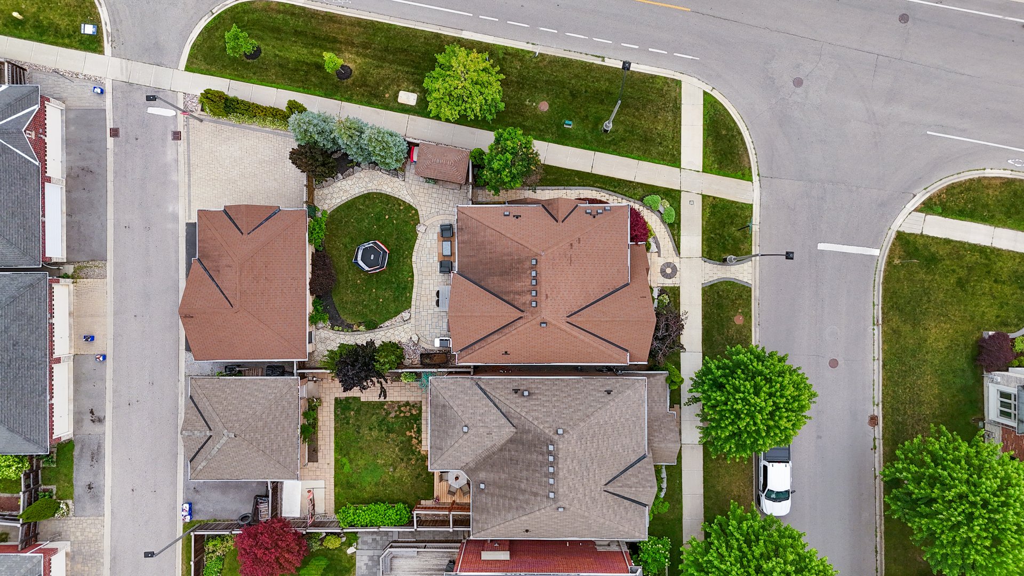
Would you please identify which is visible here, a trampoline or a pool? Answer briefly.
trampoline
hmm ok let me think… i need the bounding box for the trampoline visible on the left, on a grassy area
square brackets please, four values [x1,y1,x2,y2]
[353,241,388,273]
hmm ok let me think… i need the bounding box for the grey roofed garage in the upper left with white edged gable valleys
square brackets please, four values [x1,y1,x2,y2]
[0,82,84,269]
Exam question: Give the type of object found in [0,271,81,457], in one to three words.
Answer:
building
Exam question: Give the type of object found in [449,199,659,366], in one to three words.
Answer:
house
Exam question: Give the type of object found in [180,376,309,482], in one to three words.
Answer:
building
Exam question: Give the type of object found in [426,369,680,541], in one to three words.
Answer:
house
